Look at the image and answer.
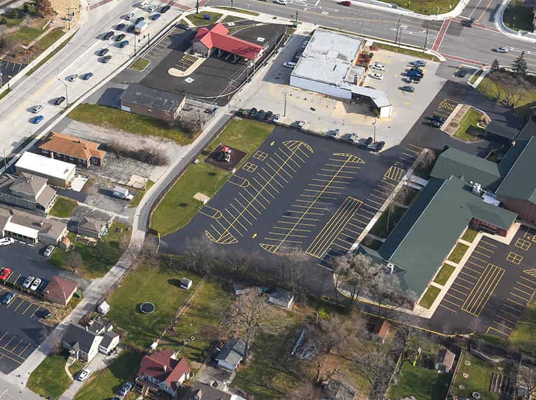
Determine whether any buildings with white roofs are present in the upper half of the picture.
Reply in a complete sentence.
Yes, looking in the upper half of the picture, one can make out a building with a white roof.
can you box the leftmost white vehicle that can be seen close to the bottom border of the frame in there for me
[78,368,90,382]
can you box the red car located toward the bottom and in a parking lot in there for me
[0,267,12,279]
